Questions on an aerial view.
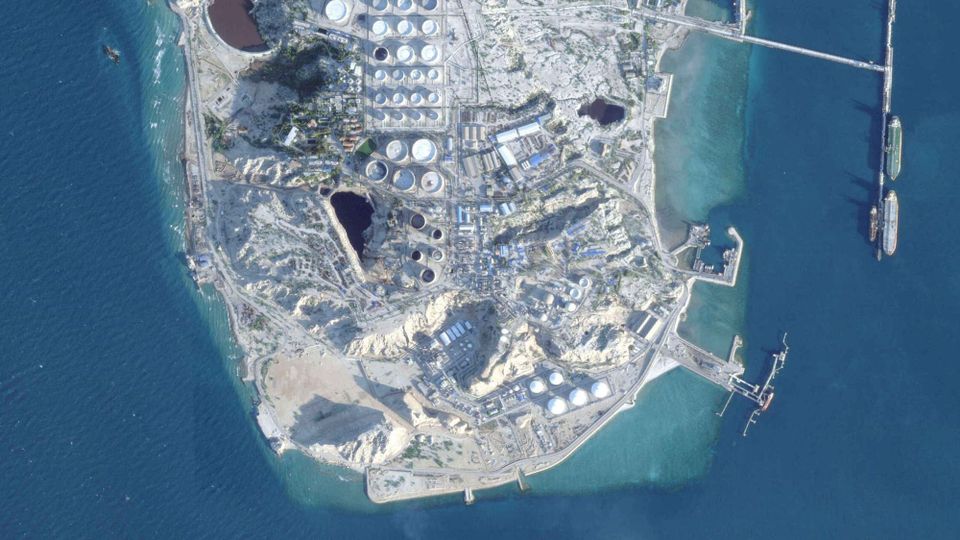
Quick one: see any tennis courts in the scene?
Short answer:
No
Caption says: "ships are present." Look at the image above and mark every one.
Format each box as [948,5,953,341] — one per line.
[869,205,877,241]
[887,116,901,180]
[882,189,898,255]
[762,393,773,410]
[102,46,120,64]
